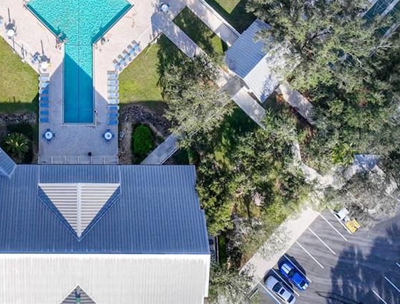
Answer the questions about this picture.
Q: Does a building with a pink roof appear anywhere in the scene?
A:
No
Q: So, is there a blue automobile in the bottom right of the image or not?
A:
Yes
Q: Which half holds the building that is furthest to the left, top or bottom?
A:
bottom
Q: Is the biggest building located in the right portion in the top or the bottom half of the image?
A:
top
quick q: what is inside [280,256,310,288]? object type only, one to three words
car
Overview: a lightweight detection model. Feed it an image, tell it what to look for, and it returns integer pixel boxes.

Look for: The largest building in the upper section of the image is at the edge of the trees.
[223,18,295,102]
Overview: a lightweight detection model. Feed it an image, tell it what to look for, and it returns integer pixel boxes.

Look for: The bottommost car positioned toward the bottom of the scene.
[265,273,297,304]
